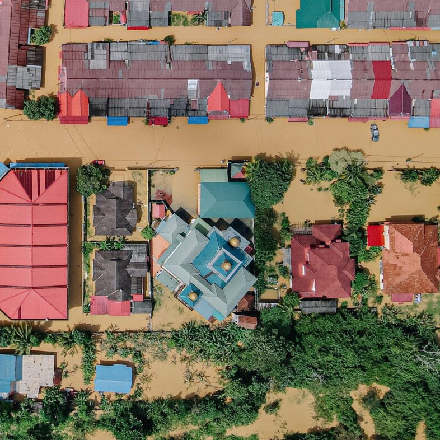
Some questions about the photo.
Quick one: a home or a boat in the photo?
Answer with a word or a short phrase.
home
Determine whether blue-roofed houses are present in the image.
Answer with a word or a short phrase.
Yes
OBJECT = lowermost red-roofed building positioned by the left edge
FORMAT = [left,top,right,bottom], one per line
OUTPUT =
[0,162,69,320]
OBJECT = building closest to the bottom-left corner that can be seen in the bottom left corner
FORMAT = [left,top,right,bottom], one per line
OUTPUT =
[0,352,62,399]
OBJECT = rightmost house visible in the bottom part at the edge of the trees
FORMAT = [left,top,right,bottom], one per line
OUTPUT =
[362,224,440,305]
